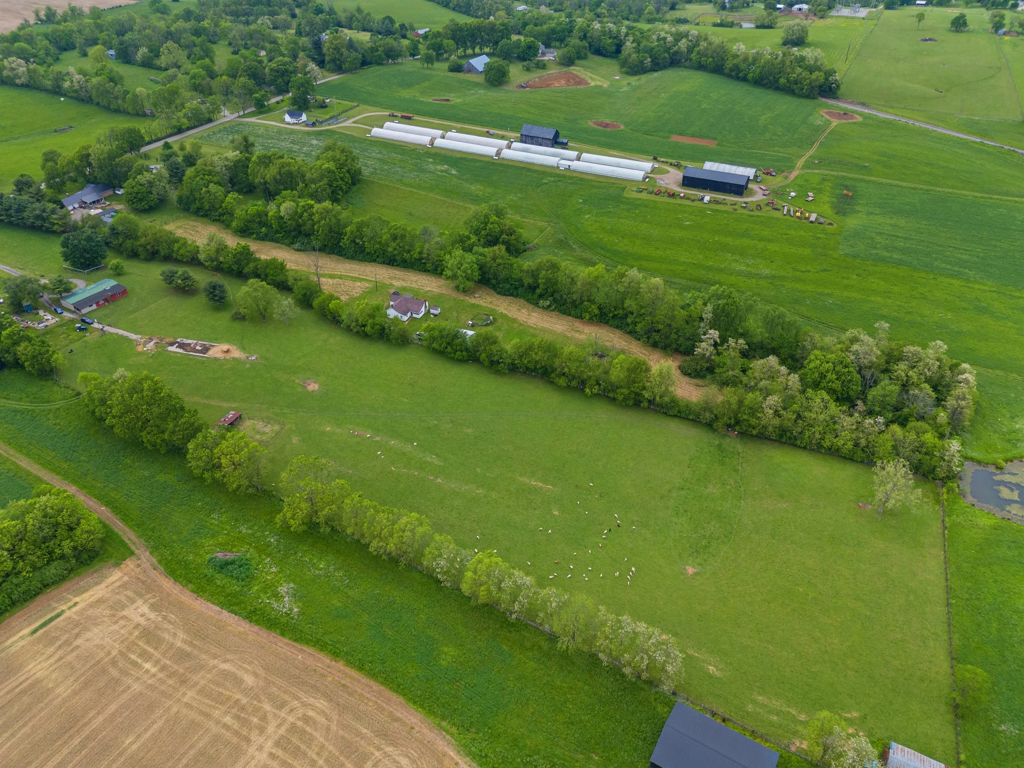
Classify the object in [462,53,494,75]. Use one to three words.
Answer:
barn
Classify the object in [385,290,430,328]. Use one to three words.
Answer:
house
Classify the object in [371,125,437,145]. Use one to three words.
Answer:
greenhouse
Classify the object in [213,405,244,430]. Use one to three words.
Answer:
shed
